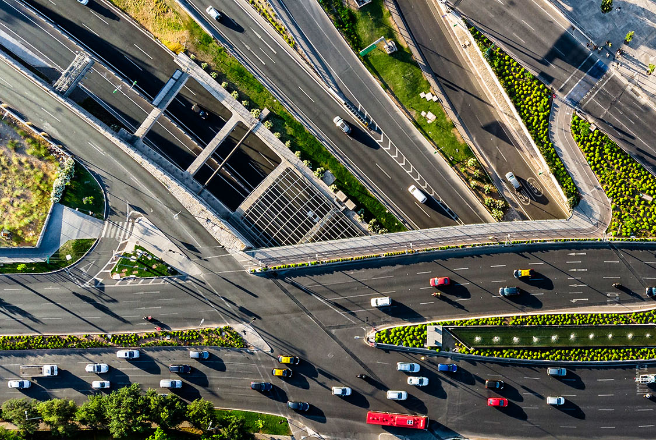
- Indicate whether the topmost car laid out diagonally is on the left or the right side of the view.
left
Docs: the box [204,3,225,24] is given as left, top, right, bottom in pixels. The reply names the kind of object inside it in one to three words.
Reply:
car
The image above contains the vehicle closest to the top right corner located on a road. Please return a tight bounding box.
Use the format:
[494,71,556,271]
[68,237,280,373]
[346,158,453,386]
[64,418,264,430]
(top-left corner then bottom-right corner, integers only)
[504,168,522,192]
